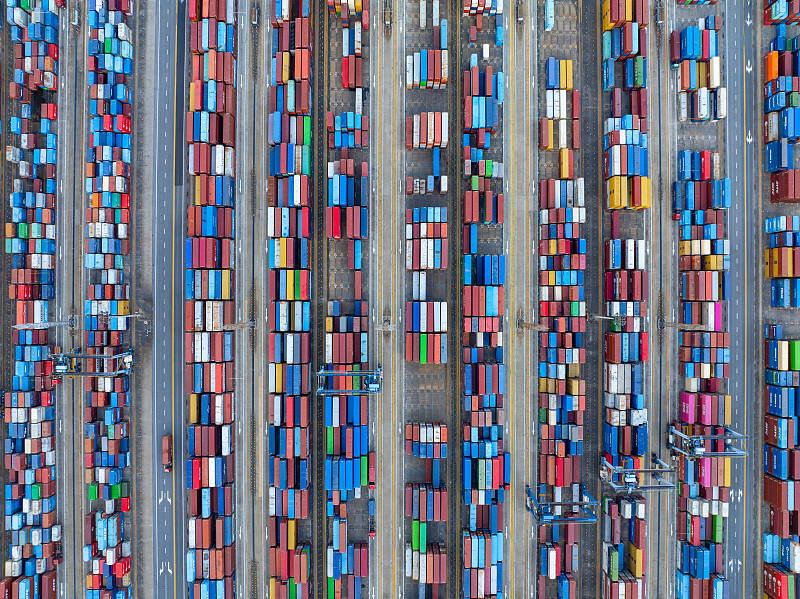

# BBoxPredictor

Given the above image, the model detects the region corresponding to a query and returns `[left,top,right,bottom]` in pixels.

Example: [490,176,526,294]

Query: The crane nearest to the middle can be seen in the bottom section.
[314,363,384,394]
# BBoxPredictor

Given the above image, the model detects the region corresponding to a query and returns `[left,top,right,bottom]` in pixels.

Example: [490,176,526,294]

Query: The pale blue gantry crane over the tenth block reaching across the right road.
[668,424,756,462]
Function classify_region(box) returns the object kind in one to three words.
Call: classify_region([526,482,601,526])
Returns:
container crane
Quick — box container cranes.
[600,454,678,493]
[50,347,134,379]
[526,482,601,526]
[314,363,384,394]
[668,424,756,462]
